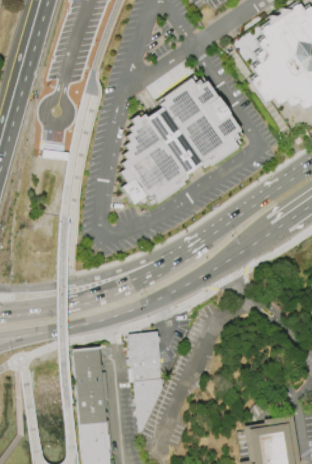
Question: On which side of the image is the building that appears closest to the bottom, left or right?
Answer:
right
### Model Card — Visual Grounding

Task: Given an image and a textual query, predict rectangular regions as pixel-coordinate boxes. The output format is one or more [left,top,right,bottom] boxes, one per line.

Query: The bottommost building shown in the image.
[237,417,299,464]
